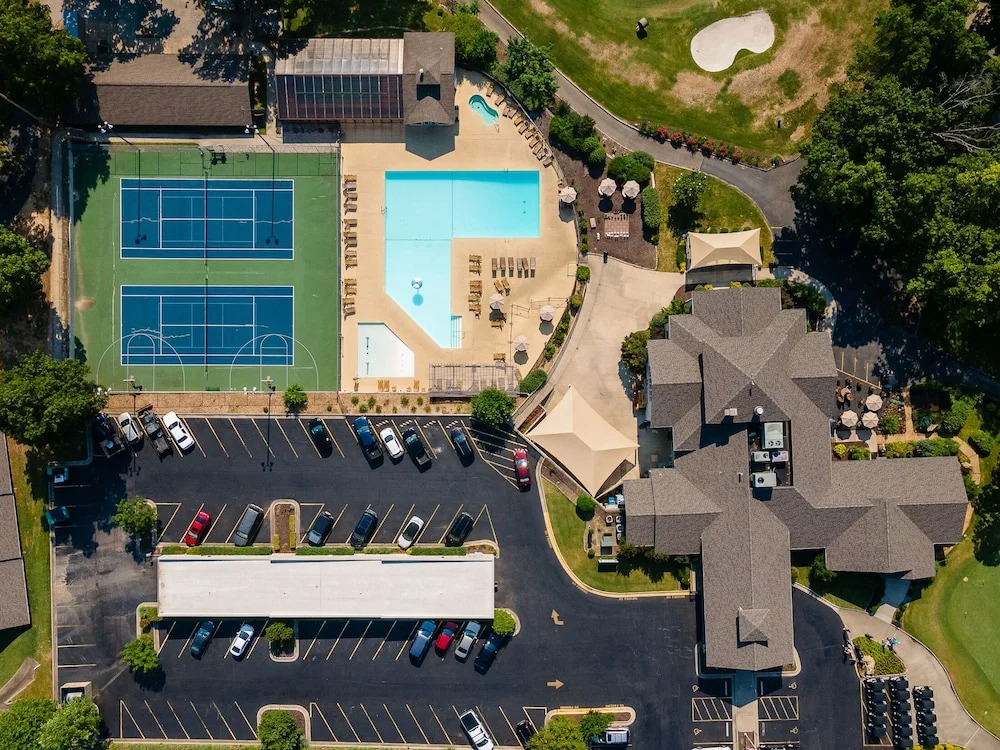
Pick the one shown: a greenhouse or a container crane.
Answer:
greenhouse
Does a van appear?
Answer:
Yes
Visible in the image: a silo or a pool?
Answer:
pool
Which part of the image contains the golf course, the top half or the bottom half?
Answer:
top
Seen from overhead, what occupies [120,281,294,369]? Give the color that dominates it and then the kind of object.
blue tennis court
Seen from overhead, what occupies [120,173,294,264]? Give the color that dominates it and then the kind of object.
blue tennis court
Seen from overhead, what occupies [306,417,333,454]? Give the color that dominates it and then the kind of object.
black car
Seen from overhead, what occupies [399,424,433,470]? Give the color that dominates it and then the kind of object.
black truck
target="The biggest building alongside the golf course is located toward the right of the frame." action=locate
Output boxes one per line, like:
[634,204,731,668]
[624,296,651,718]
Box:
[624,286,967,669]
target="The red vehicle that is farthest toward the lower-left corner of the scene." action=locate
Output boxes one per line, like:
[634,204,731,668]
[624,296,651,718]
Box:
[184,509,212,545]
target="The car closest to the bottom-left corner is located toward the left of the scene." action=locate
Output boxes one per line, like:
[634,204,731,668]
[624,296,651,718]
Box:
[188,620,216,657]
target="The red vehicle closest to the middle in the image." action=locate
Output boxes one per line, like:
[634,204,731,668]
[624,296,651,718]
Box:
[512,448,530,487]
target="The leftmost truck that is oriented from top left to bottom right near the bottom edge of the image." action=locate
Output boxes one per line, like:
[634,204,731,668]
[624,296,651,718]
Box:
[458,709,493,750]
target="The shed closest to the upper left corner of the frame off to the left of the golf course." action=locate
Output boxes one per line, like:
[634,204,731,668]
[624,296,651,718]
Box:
[67,55,251,128]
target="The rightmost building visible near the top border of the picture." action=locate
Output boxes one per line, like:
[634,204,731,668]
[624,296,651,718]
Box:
[402,32,457,127]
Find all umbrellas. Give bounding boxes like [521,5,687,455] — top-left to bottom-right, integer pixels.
[622,181,640,197]
[489,294,504,309]
[840,410,856,427]
[560,187,576,203]
[540,307,555,321]
[861,412,878,428]
[514,336,528,351]
[865,395,882,410]
[599,179,616,196]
